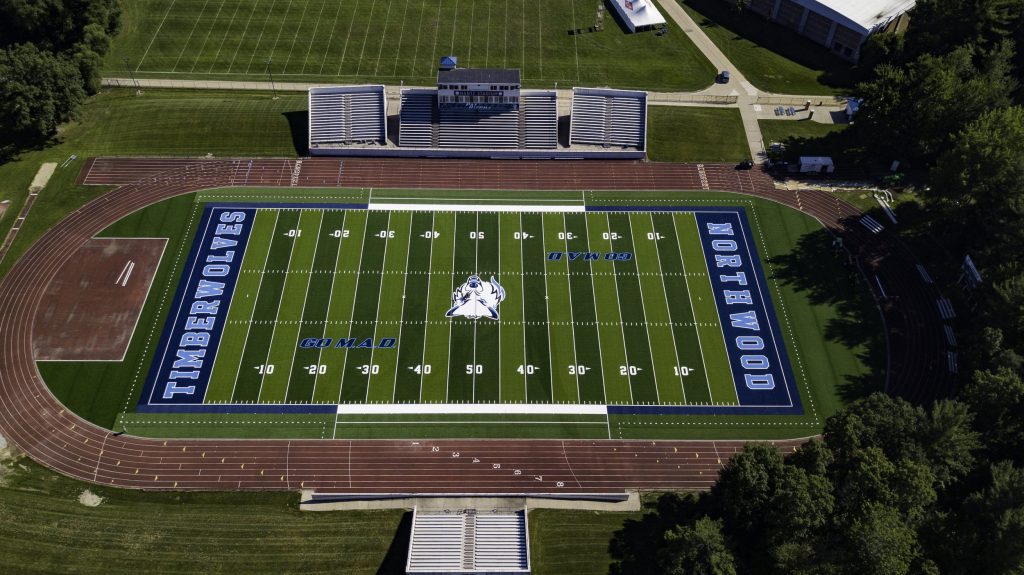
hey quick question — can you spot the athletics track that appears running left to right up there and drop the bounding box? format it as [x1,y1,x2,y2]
[0,155,944,490]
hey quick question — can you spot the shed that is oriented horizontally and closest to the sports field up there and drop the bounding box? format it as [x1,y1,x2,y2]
[799,157,836,173]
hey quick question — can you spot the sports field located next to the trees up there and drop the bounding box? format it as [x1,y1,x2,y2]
[33,187,889,438]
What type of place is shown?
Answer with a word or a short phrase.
sports ground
